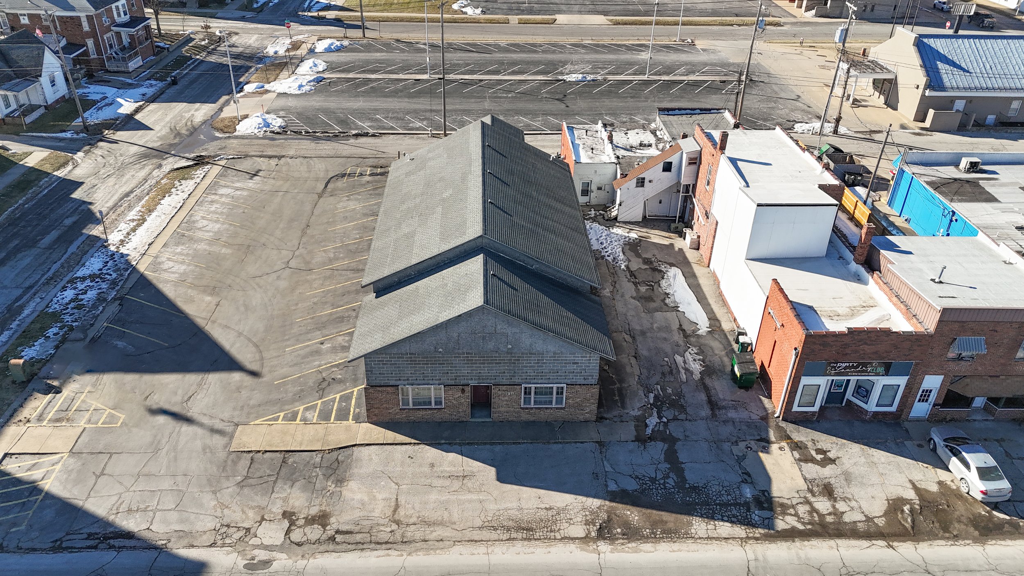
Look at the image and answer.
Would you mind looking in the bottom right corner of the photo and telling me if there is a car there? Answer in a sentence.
Yes, a car can be seen in the bottom right corner of the photo.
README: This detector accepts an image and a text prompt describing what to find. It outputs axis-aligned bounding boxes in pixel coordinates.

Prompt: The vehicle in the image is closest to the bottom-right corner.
[925,428,1018,504]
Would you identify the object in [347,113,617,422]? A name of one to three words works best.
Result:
building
